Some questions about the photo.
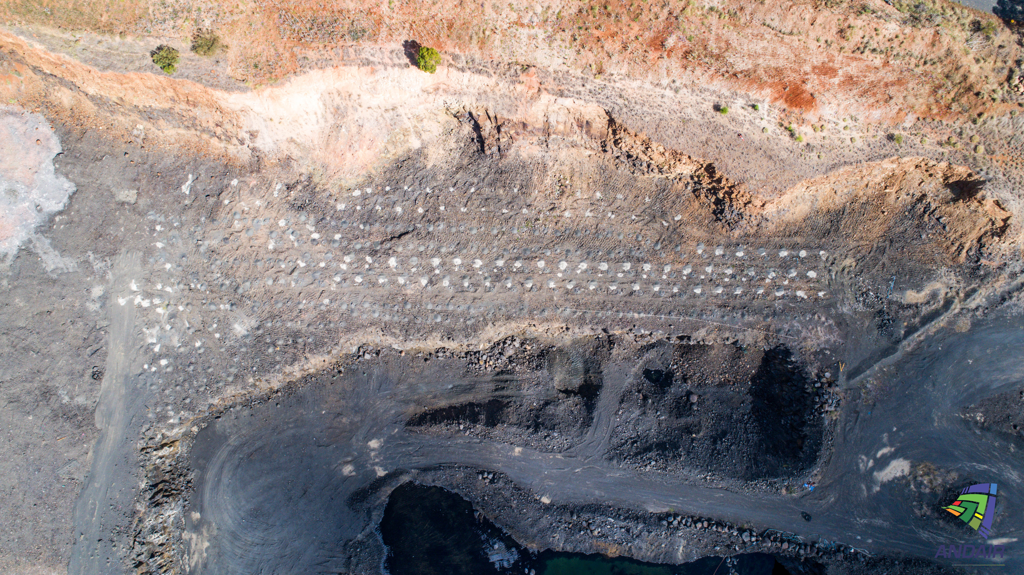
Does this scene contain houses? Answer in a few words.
No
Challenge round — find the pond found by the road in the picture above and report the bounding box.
[378,481,789,575]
